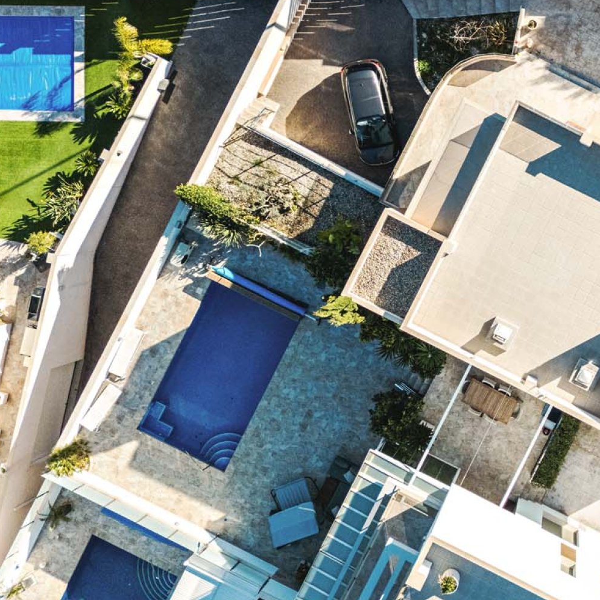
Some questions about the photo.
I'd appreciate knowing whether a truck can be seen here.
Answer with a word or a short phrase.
No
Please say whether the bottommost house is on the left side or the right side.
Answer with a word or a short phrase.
right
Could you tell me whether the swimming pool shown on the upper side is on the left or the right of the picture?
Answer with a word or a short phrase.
left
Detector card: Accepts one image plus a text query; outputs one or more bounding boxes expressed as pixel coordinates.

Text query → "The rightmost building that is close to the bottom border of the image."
[397,487,600,600]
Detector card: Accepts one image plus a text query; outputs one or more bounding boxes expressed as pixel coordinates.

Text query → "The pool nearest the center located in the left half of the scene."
[138,279,305,471]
